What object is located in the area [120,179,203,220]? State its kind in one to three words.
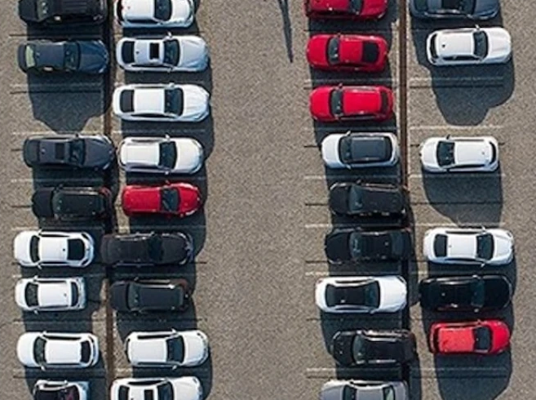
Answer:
car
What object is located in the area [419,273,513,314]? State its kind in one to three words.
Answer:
car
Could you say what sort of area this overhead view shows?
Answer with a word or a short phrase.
parking lot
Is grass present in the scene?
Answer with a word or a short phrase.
No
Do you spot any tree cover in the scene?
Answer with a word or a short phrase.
No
